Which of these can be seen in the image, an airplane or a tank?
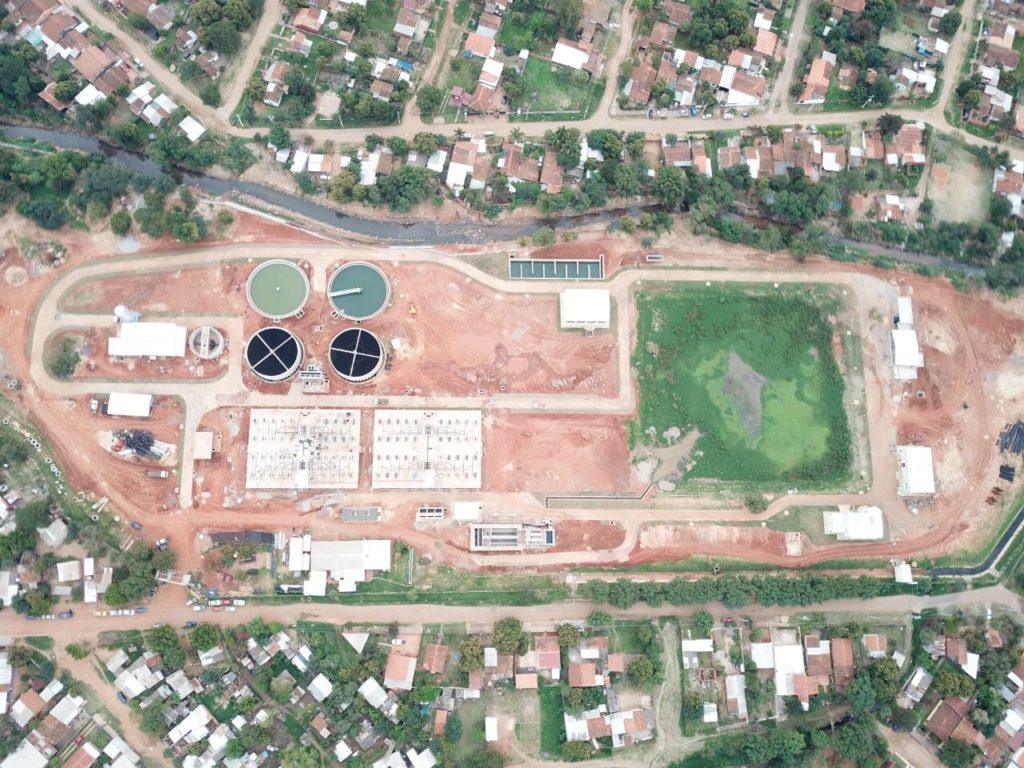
tank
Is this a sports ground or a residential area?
residential area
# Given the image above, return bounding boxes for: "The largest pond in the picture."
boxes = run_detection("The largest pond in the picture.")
[632,285,852,489]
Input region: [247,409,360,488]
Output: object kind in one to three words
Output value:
storage tank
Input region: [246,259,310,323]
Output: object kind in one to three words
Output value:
storage tank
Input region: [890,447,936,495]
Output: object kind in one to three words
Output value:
building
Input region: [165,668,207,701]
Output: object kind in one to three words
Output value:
house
